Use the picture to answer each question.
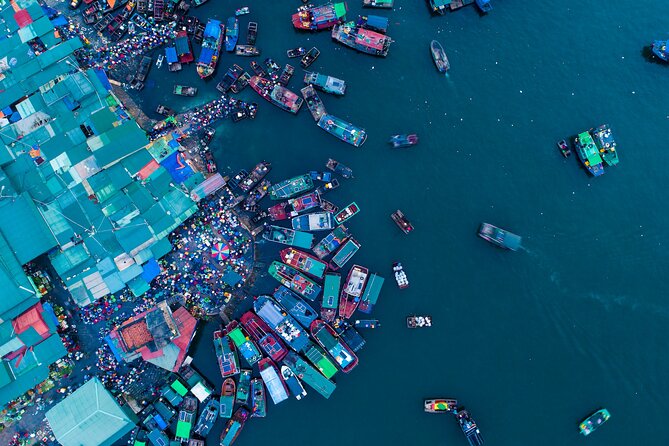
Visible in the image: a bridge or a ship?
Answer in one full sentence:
The image shows a ship.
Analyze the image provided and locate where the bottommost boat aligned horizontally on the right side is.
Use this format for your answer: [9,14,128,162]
[424,397,456,411]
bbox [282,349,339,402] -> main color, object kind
blue ship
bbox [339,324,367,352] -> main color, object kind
blue ship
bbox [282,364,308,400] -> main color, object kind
blue boat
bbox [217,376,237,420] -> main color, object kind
blue boat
